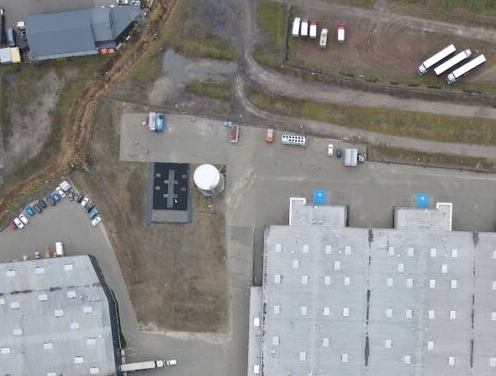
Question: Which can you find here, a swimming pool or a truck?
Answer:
truck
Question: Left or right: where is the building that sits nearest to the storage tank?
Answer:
left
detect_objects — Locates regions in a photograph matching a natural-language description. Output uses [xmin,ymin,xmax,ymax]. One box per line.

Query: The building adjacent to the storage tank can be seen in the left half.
[146,163,193,224]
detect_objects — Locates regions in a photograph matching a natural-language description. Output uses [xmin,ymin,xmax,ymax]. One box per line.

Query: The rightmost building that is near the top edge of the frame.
[92,2,146,48]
